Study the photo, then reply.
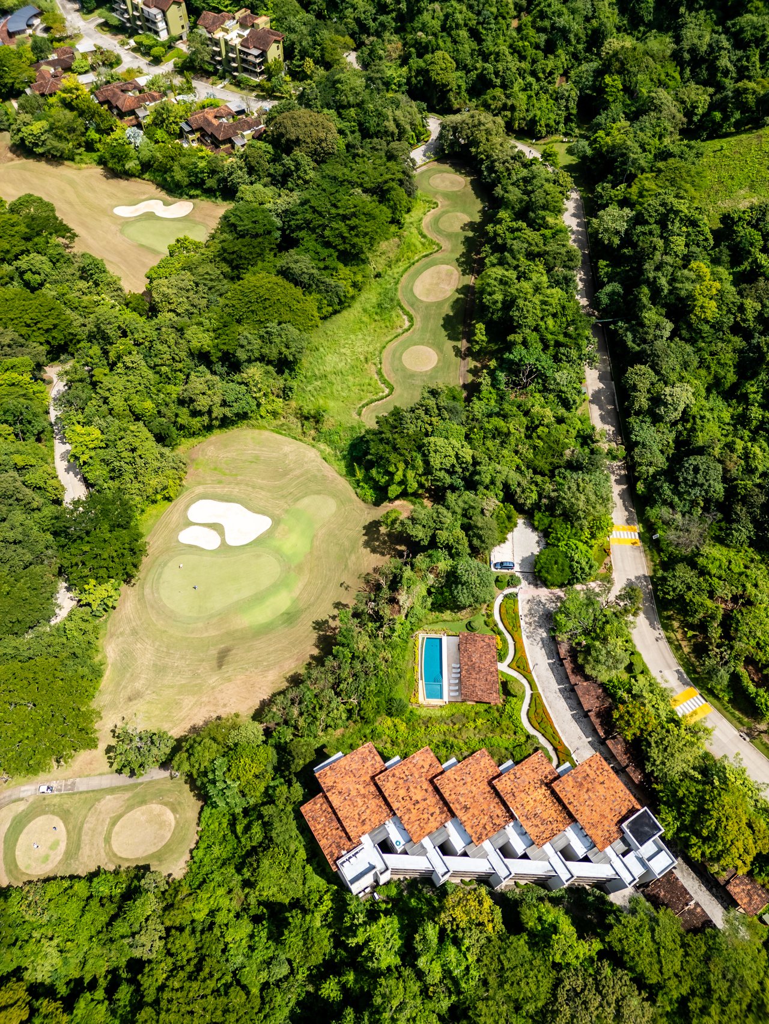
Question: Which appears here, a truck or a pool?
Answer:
pool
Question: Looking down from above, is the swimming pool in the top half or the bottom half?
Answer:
bottom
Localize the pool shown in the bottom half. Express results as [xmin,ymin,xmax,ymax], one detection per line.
[418,633,487,706]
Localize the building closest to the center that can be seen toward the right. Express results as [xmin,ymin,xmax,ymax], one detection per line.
[459,632,500,705]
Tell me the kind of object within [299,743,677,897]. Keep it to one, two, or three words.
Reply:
building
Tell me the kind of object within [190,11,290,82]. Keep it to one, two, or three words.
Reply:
building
